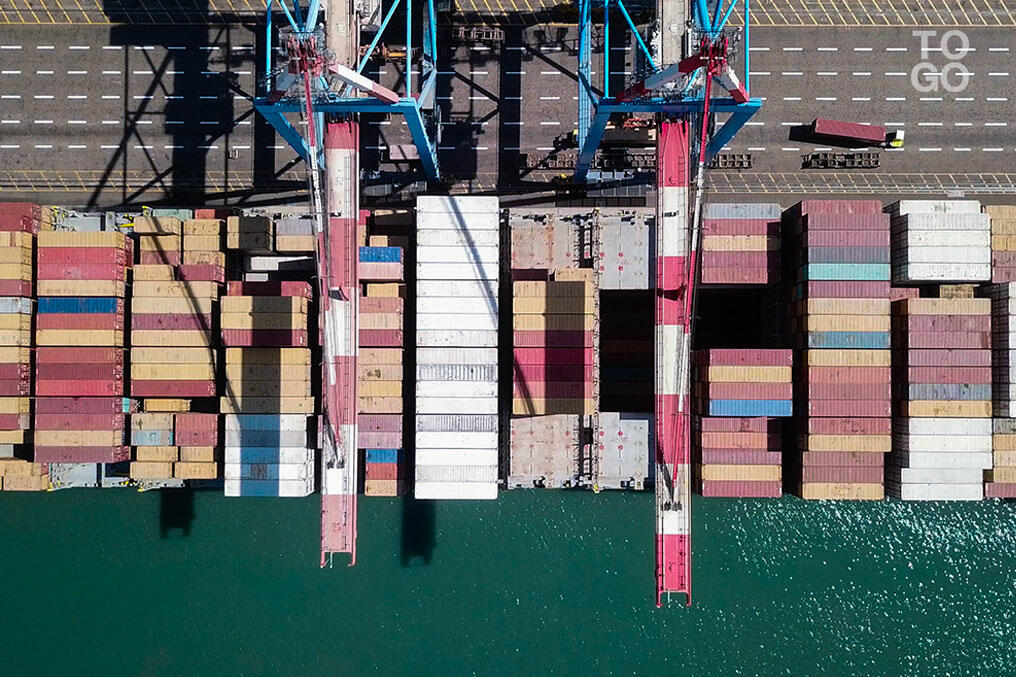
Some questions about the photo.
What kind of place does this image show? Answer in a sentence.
This looks like a port.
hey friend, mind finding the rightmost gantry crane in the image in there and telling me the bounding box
[557,0,762,608]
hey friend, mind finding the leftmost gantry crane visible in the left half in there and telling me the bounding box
[251,0,454,568]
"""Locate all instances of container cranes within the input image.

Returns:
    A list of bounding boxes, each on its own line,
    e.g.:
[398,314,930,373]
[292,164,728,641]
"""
[557,0,762,608]
[251,0,454,568]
